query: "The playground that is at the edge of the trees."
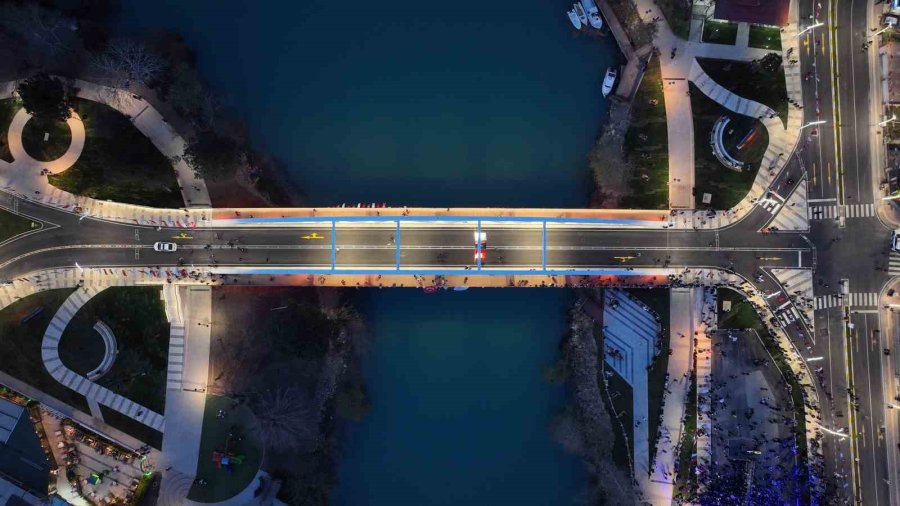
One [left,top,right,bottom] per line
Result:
[185,394,265,503]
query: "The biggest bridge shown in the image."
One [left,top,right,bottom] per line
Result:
[211,207,670,288]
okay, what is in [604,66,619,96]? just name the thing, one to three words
boat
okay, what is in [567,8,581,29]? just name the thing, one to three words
boat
